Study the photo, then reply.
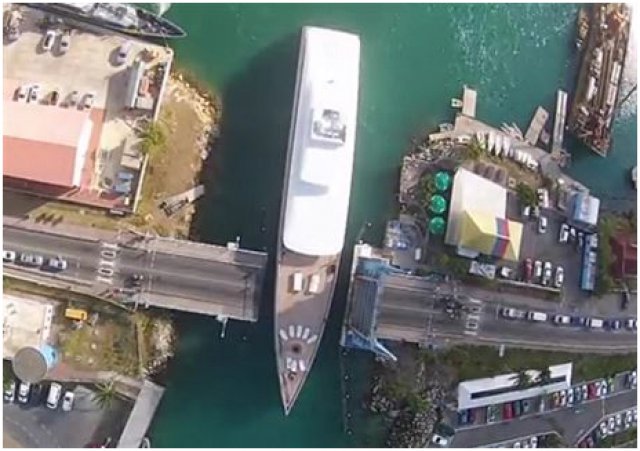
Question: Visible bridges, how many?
2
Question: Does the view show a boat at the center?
Yes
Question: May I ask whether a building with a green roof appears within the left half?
No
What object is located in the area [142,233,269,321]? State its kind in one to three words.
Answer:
bridge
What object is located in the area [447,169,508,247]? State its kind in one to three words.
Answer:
building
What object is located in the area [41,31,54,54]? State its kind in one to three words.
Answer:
vehicle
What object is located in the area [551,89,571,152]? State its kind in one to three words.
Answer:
pier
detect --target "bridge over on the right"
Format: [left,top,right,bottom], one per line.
[341,251,432,363]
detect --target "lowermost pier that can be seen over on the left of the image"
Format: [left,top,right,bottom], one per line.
[158,186,206,211]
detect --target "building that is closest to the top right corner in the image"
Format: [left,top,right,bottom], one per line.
[564,193,600,236]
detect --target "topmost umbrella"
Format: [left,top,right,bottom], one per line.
[432,172,449,190]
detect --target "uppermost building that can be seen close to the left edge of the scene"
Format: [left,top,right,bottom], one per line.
[0,99,101,189]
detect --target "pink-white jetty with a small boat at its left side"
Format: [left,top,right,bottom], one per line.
[462,86,479,117]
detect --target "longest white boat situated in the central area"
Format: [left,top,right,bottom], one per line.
[274,29,361,413]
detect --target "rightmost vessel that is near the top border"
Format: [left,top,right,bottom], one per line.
[568,0,631,159]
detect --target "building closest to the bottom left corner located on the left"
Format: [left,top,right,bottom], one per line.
[0,292,54,355]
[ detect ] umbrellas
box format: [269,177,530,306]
[428,216,446,234]
[429,196,446,212]
[432,172,449,190]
